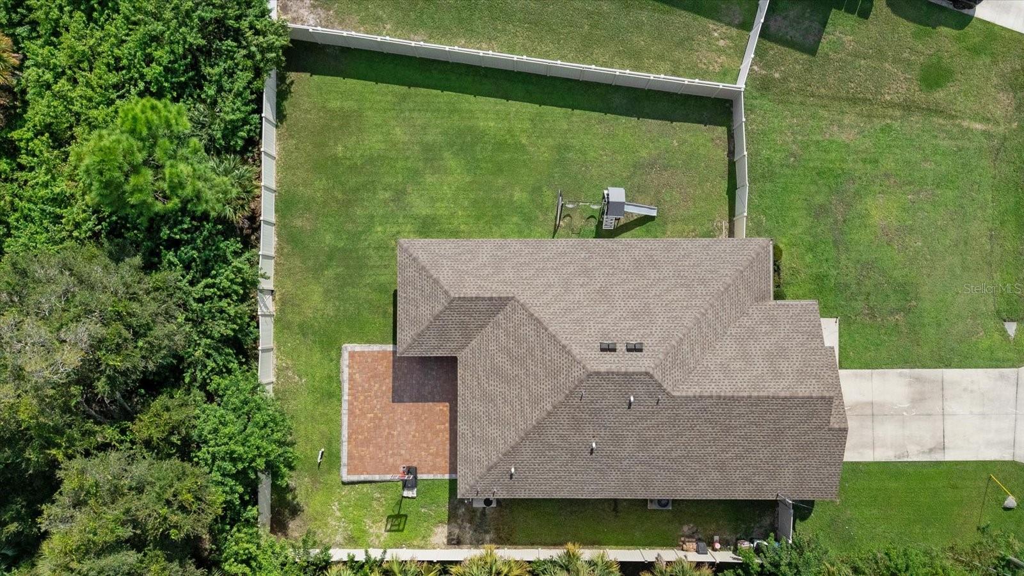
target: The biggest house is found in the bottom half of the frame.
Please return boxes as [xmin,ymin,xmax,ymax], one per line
[396,237,852,500]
